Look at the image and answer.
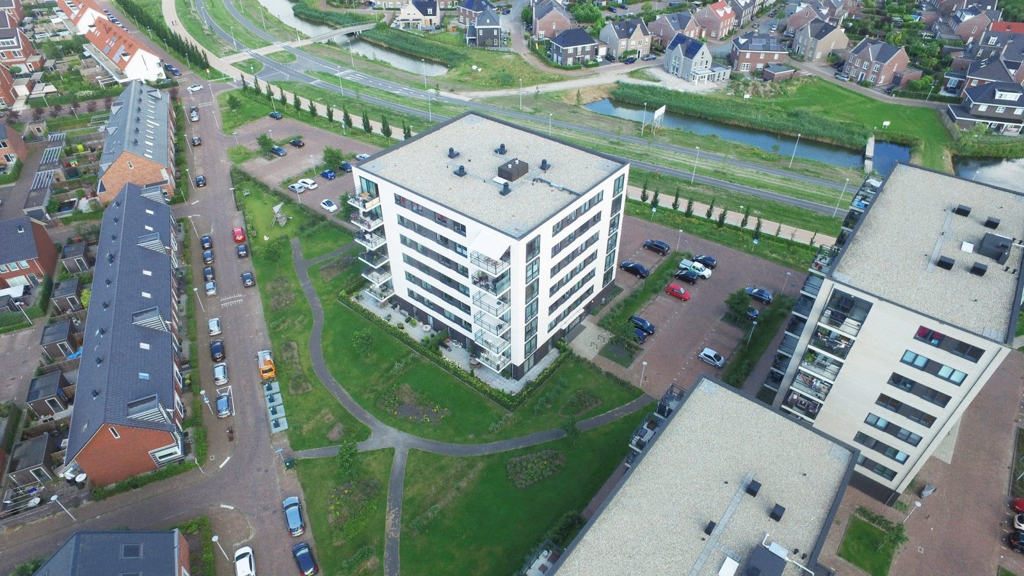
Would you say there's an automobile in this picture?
Yes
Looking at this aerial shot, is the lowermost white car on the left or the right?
left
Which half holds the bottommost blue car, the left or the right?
left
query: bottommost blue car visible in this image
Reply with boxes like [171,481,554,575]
[291,536,319,576]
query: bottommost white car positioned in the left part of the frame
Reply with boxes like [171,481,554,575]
[230,542,257,576]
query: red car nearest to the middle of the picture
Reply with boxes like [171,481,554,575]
[663,281,693,301]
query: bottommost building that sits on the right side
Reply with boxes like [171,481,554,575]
[521,377,859,576]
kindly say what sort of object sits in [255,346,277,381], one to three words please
vehicle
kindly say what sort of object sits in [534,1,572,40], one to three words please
house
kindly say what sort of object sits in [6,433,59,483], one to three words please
shed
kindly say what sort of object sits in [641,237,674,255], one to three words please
car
